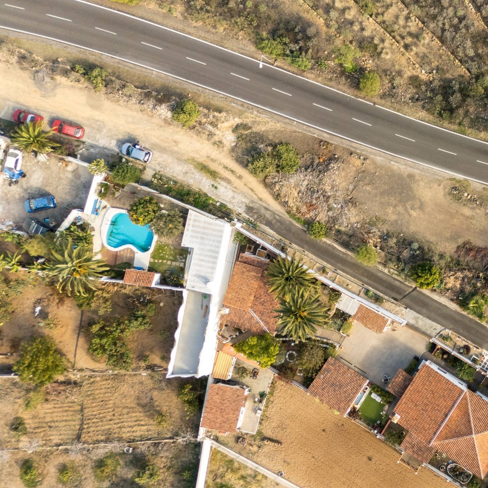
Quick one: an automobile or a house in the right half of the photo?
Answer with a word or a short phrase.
house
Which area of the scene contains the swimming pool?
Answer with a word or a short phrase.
left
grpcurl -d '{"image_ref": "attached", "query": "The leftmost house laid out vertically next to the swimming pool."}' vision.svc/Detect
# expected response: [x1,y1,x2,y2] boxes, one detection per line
[168,210,247,380]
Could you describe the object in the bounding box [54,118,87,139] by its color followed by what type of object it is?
red car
